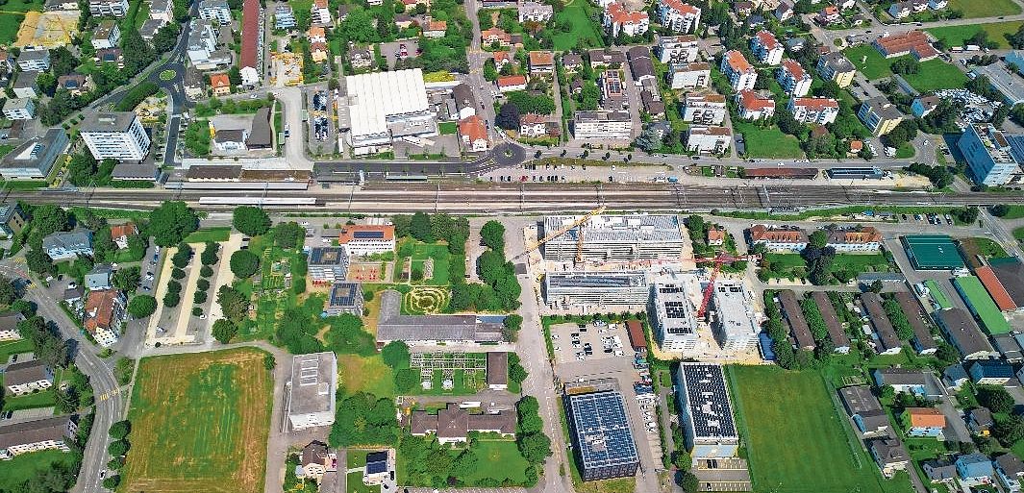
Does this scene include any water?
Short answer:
No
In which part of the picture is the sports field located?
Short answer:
bottom right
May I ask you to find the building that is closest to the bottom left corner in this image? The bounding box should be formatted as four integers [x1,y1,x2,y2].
[0,413,77,458]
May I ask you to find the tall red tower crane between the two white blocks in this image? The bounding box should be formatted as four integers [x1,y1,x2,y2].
[604,253,760,322]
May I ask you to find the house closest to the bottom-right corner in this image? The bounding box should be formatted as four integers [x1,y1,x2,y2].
[991,454,1024,485]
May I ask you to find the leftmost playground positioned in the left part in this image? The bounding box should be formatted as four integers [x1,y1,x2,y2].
[297,272,334,306]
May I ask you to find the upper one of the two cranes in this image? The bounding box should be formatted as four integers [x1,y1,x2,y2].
[519,206,606,266]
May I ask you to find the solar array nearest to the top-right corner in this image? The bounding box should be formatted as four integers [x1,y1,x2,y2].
[1001,136,1024,172]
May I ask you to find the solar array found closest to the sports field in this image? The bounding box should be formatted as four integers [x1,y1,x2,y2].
[683,366,735,435]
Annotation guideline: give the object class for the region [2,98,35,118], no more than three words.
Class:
building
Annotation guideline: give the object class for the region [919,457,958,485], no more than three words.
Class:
house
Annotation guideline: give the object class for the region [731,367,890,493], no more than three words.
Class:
sports field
